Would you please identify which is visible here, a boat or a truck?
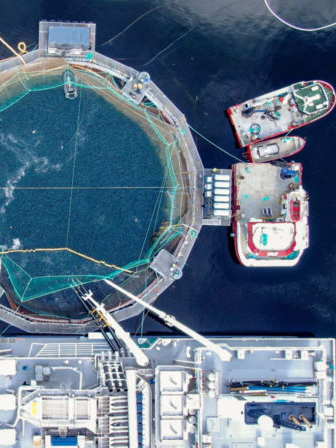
boat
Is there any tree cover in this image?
No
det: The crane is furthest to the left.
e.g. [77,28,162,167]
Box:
[79,285,147,375]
